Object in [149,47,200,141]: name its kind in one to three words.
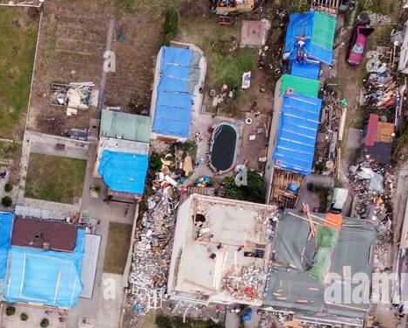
shed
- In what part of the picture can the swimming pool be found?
center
